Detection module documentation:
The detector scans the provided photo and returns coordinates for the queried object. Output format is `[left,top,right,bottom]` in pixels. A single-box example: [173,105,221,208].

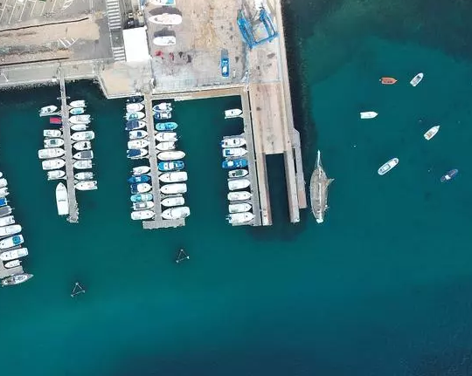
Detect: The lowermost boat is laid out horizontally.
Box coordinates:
[0,274,33,287]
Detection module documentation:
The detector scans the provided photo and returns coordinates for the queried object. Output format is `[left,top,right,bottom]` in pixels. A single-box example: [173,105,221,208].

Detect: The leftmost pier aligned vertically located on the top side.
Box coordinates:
[40,76,79,221]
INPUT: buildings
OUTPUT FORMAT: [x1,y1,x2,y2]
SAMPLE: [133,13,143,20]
[123,28,148,65]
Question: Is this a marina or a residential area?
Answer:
marina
